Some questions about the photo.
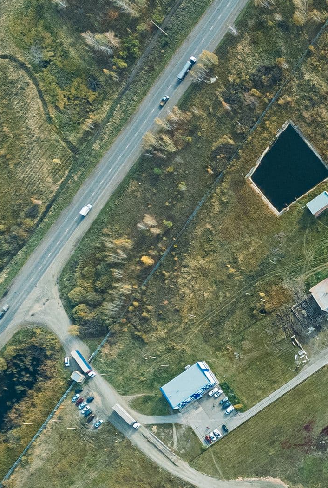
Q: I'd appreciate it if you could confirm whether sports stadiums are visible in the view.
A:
No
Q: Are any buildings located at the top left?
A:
No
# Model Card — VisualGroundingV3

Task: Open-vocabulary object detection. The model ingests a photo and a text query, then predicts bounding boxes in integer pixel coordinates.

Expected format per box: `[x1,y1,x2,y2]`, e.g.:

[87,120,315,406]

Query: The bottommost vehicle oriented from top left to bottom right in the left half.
[112,404,145,431]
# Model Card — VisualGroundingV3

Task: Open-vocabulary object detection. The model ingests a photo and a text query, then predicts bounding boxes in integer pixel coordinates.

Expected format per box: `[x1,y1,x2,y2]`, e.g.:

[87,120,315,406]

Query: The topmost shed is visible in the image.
[306,191,328,214]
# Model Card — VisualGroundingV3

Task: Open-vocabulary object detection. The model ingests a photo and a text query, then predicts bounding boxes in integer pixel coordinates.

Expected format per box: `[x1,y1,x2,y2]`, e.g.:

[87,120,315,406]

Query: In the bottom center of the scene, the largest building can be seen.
[160,362,219,409]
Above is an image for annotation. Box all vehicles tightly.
[208,387,219,396]
[221,424,228,434]
[81,204,93,216]
[213,429,221,438]
[86,414,95,423]
[213,389,222,397]
[75,397,84,406]
[84,410,93,418]
[74,387,84,394]
[224,406,235,414]
[78,402,87,410]
[160,96,168,107]
[86,396,94,404]
[205,436,212,444]
[178,57,199,82]
[70,351,100,379]
[65,357,70,367]
[82,406,91,414]
[112,404,145,431]
[220,397,228,404]
[210,431,217,440]
[72,394,81,402]
[222,401,232,409]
